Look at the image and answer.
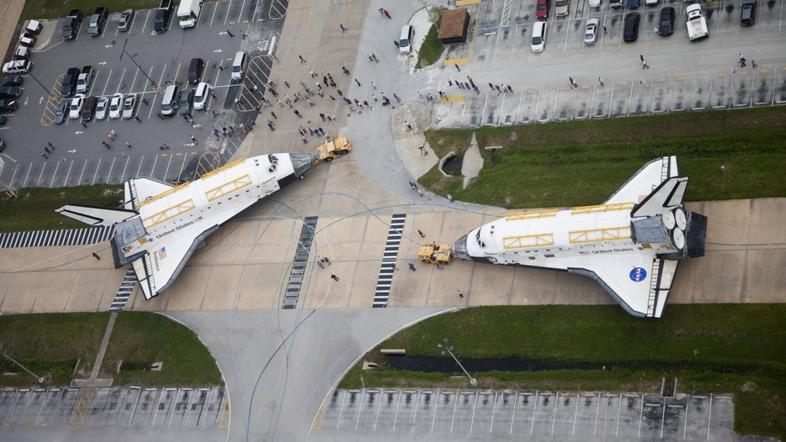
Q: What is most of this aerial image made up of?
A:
paved ground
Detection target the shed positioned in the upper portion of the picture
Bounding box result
[438,8,472,47]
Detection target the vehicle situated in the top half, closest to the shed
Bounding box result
[396,24,415,55]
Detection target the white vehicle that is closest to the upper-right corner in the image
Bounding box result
[689,3,707,42]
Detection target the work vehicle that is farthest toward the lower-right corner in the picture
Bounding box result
[416,244,454,266]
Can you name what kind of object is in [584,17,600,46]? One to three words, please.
car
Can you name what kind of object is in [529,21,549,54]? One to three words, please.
vehicle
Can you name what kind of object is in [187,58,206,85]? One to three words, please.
car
